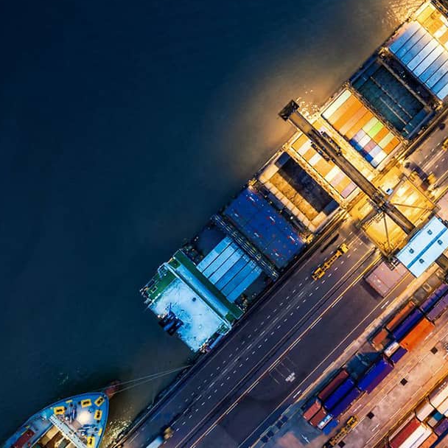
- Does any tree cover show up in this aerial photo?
No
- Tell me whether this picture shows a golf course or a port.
port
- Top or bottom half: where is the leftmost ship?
bottom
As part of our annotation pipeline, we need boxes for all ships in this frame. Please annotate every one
[142,0,448,352]
[4,372,129,448]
